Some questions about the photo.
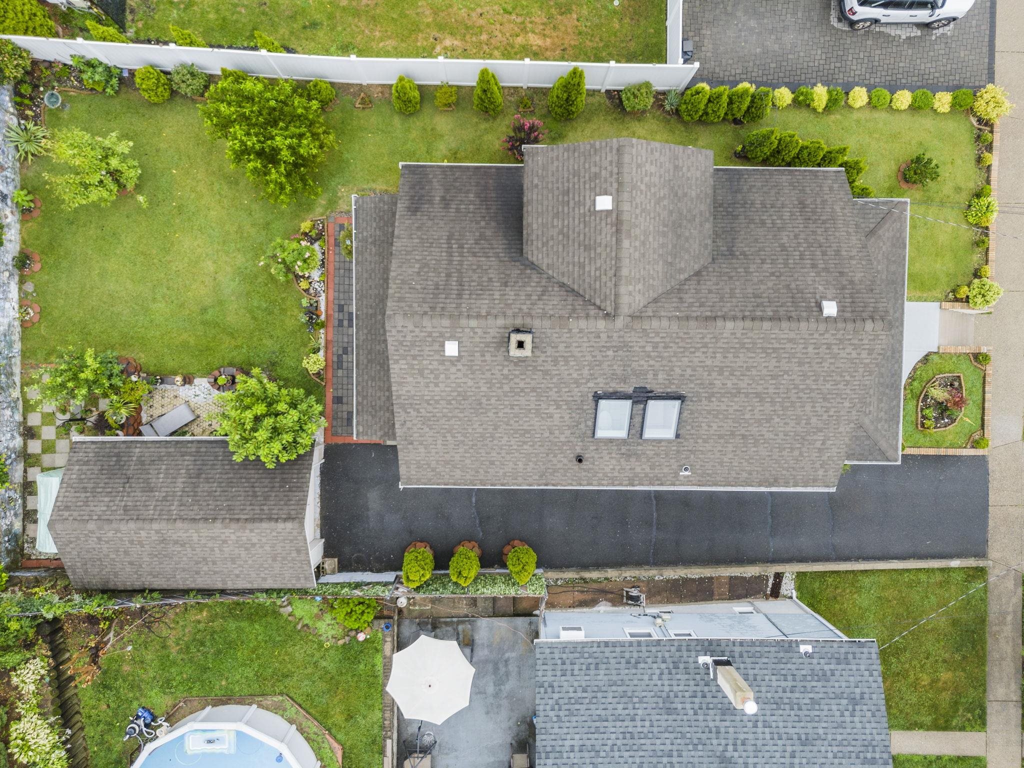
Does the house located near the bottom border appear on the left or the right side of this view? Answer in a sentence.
You can find the house located near the bottom border on the right side of the picture.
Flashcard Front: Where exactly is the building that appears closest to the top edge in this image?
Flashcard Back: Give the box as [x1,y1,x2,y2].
[350,133,908,495]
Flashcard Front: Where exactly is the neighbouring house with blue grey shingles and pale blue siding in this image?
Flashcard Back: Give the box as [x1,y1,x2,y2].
[534,604,892,768]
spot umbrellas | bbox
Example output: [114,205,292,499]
[386,635,475,751]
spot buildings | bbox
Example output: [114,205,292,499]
[47,437,325,589]
[350,133,908,495]
[534,604,892,768]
